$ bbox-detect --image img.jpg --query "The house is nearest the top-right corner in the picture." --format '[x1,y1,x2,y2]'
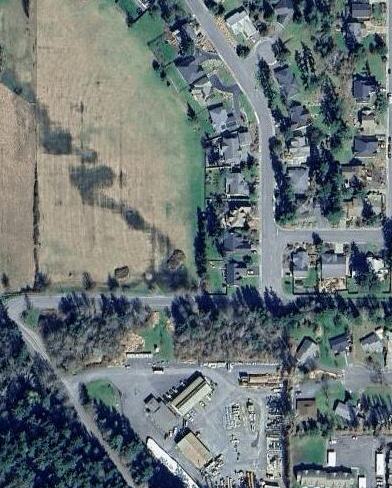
[351,0,371,21]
